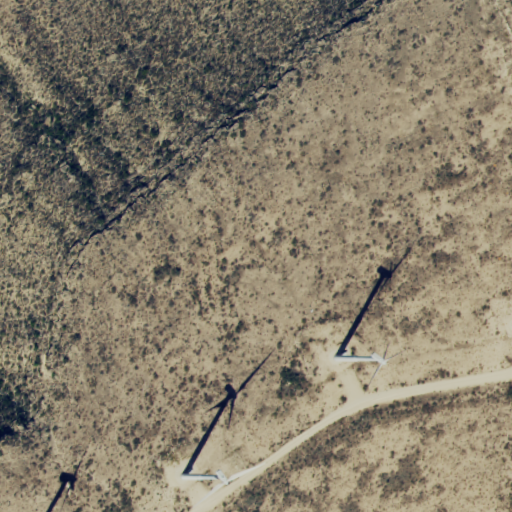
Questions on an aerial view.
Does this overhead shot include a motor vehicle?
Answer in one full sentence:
No, there isn't any motor vehicle down there.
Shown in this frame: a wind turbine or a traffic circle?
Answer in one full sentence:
The one in the frame is a wind turbine.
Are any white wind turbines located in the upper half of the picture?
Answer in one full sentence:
No, I see no white wind turbine in the upper half of the picture.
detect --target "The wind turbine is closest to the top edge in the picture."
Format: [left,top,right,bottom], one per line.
[333,348,403,398]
